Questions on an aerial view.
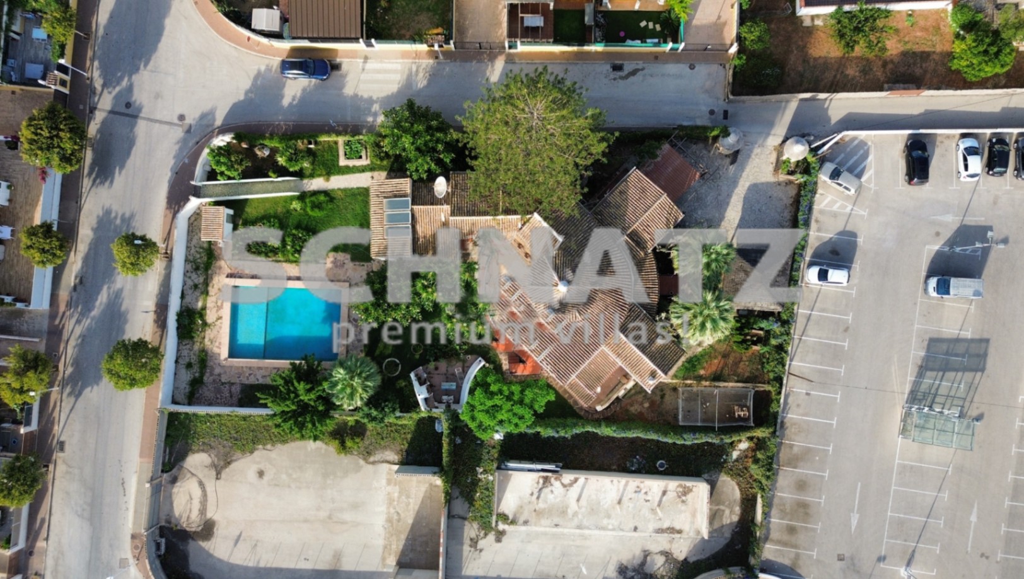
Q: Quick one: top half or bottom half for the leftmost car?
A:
top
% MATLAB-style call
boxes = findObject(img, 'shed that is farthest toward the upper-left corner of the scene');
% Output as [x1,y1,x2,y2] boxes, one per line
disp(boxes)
[252,8,282,36]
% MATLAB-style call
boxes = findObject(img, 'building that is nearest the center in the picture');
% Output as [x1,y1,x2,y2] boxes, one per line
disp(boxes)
[369,166,686,412]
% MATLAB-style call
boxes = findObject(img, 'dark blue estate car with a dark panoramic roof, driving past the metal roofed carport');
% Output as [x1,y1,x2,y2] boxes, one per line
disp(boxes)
[281,58,334,83]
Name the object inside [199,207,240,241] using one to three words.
shed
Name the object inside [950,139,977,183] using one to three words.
car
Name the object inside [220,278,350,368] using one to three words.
swimming pool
